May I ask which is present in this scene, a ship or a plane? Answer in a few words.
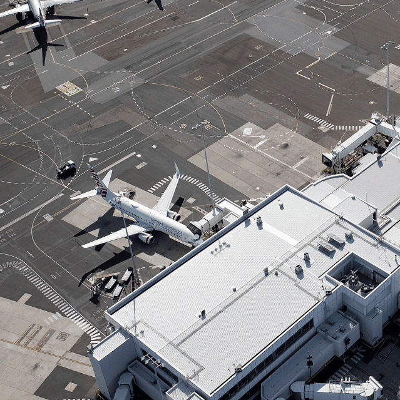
plane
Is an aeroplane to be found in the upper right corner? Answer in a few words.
No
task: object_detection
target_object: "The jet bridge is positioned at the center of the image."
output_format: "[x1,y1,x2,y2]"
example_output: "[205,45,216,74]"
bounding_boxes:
[188,204,232,238]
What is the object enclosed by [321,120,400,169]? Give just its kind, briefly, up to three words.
jet bridge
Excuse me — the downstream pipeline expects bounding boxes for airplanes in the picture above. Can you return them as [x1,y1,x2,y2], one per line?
[0,0,87,28]
[72,162,205,249]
